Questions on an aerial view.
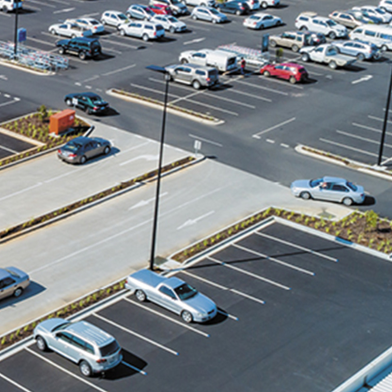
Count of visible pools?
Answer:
zero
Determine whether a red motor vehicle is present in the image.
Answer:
Yes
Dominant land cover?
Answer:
paved ground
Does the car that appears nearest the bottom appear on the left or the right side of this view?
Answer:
left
